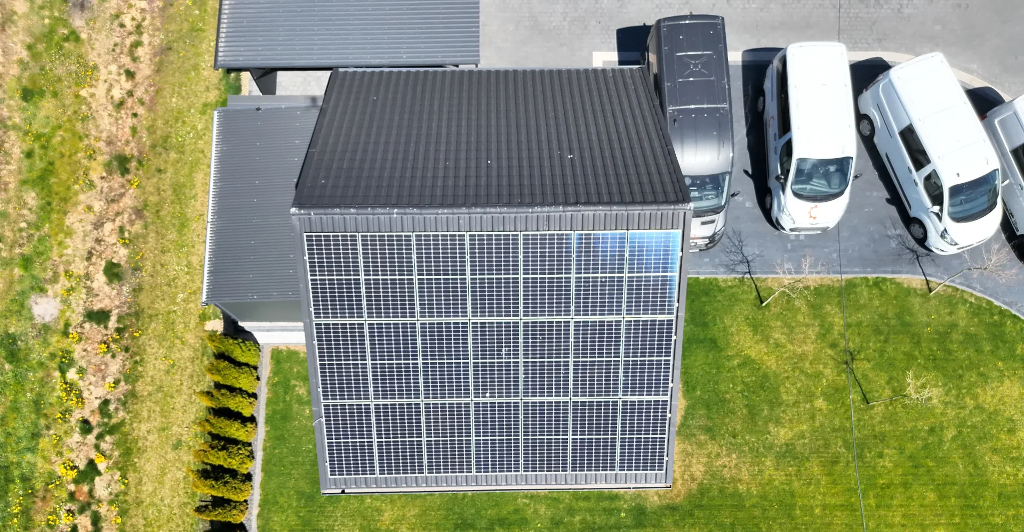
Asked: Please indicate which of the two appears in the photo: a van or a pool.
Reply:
van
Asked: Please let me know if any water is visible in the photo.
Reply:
No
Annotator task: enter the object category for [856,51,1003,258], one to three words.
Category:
van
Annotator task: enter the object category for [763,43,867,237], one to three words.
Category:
van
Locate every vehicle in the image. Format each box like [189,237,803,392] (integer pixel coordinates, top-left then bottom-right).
[856,51,1003,258]
[763,43,867,237]
[977,92,1024,244]
[639,10,748,256]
